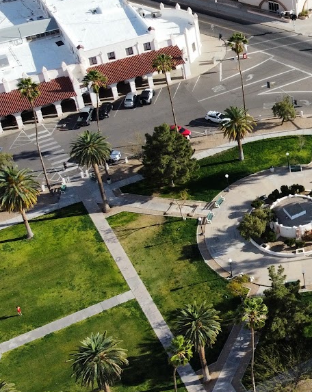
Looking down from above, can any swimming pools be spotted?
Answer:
No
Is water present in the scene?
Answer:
No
